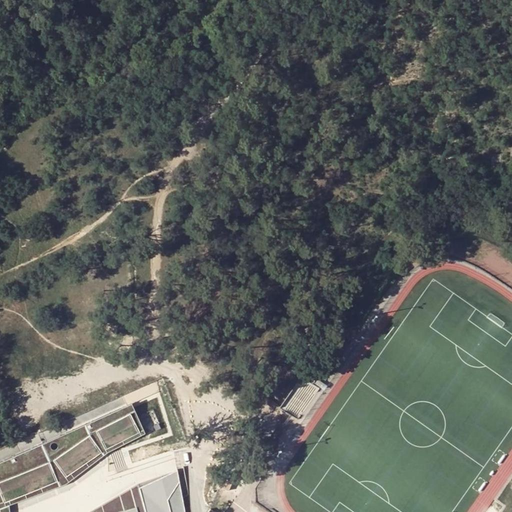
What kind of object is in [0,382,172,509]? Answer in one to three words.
building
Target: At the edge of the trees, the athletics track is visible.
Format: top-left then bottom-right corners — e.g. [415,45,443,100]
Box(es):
[276,262,512,512]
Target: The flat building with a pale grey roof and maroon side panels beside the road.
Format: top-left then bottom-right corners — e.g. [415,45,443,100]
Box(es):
[85,470,186,512]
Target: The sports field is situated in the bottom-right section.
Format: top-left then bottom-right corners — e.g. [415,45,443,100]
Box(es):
[284,270,512,512]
